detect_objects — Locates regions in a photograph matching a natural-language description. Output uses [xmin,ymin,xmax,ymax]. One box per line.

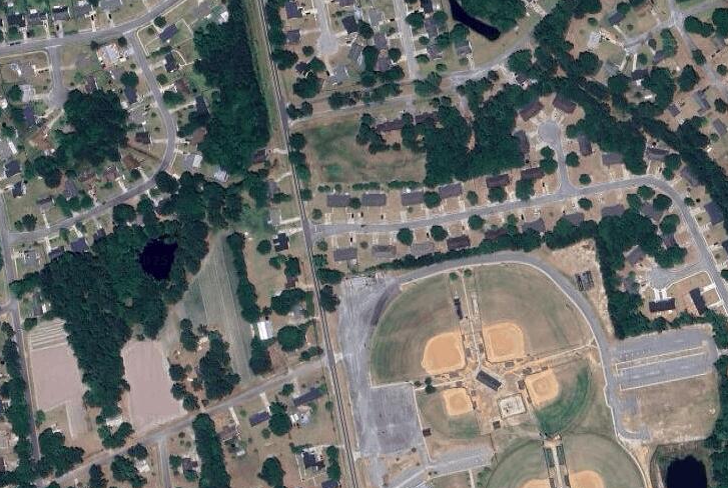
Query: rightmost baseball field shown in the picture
[562,432,645,488]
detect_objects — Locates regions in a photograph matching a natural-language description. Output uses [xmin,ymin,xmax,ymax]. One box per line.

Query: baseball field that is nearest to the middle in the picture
[369,272,468,383]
